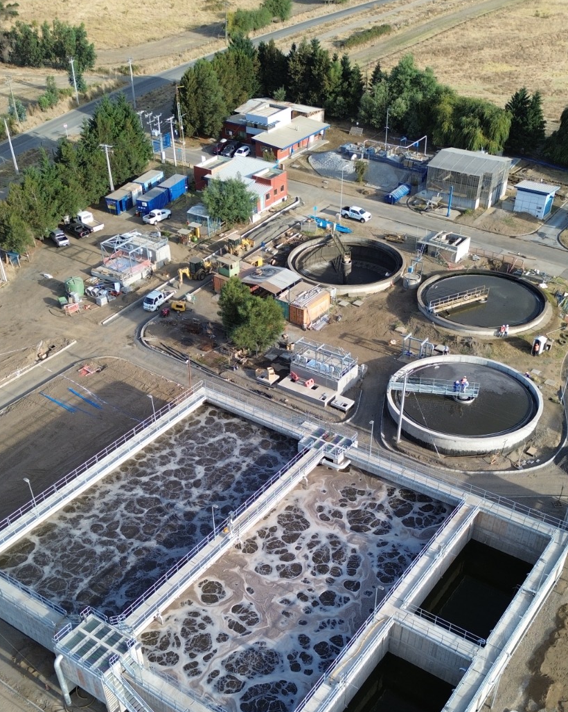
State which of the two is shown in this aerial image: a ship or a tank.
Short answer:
tank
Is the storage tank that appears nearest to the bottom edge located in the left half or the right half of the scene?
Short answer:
right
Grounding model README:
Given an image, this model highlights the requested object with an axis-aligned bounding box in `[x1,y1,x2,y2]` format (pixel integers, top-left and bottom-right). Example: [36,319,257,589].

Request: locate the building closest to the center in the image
[214,256,245,280]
